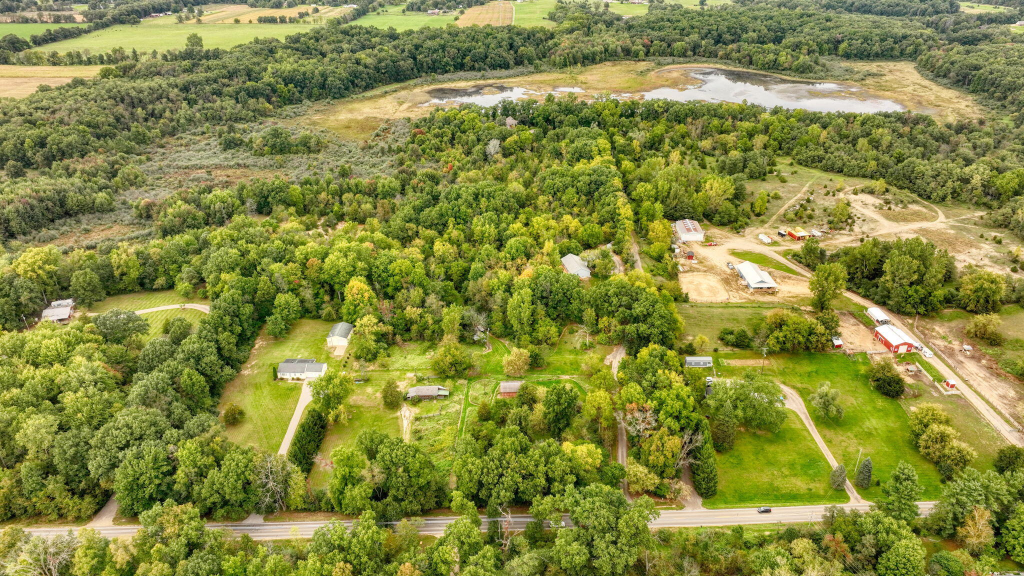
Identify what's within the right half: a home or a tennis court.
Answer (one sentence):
It is a home that can be seen within the right half.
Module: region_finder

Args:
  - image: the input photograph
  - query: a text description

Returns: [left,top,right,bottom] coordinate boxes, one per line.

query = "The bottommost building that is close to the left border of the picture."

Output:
[40,305,79,328]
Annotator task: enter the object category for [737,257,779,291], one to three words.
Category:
house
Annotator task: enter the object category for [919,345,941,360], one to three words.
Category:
vehicle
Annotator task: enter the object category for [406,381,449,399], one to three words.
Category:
barn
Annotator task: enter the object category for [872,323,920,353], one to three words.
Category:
barn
